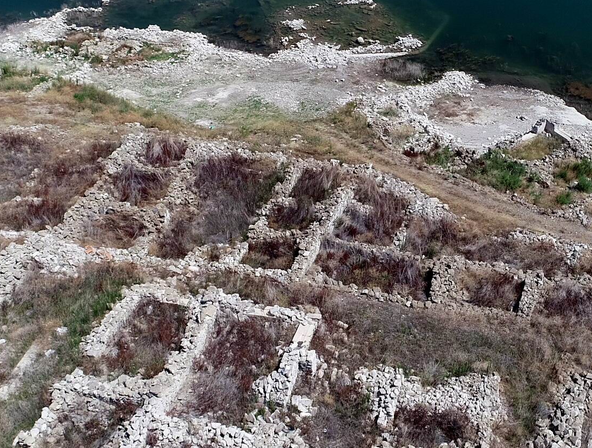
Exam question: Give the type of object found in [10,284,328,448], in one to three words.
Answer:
house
